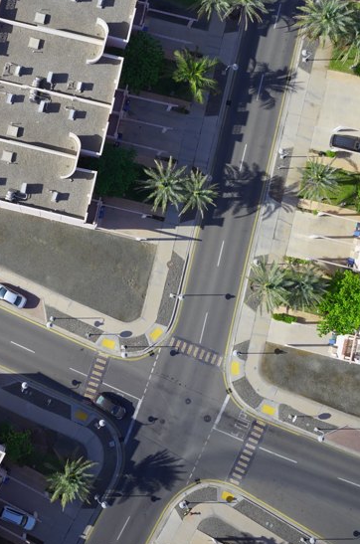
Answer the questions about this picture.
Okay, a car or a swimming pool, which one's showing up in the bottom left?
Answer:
car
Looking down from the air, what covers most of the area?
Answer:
paved ground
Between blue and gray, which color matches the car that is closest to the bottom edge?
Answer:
blue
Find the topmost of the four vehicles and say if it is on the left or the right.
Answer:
right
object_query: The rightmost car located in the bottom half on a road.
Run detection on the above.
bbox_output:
[93,391,129,419]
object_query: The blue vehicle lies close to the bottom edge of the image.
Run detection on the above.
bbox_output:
[0,504,36,529]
